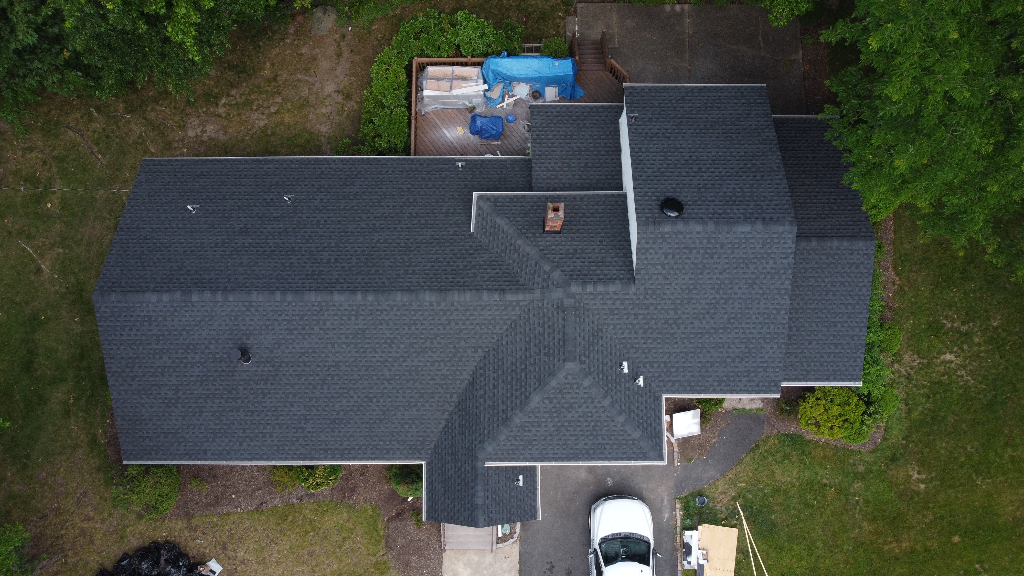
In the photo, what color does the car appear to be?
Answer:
white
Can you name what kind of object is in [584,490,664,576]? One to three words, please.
car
